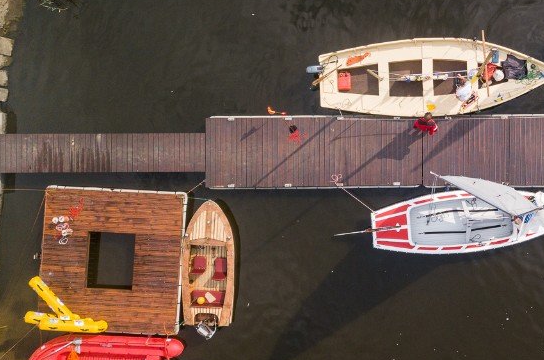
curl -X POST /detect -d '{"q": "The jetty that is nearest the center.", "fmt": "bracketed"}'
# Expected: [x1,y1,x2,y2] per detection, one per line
[206,114,422,191]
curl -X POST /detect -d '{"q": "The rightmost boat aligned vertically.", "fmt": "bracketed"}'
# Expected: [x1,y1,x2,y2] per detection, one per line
[183,200,237,339]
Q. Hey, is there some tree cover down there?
No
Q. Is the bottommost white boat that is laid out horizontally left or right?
right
